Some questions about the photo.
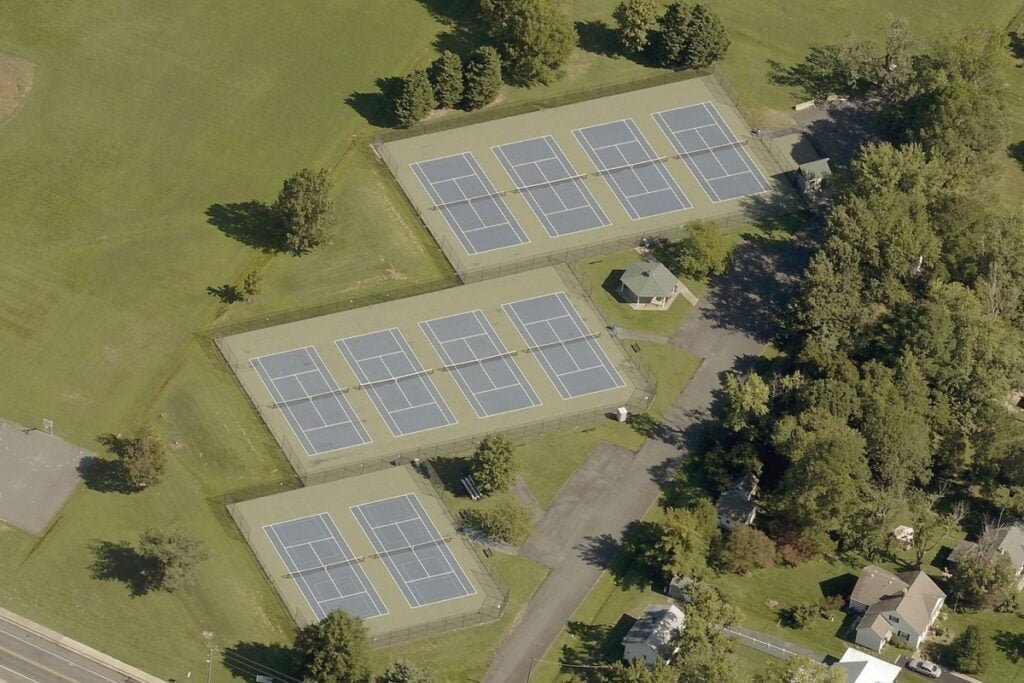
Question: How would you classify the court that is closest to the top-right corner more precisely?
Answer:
tennis court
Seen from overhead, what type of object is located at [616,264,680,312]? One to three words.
gazebo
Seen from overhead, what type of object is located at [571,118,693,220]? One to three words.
tennis court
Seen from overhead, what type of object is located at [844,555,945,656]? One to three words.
house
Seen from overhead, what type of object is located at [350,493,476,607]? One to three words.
tennis court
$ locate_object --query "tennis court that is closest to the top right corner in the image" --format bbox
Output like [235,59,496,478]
[652,102,773,203]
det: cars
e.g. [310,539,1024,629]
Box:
[911,657,944,676]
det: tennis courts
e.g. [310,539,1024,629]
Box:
[571,118,693,220]
[250,345,373,455]
[652,102,773,203]
[502,291,626,399]
[491,135,612,237]
[350,493,476,607]
[418,309,543,417]
[410,151,531,254]
[263,512,390,623]
[335,327,458,436]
